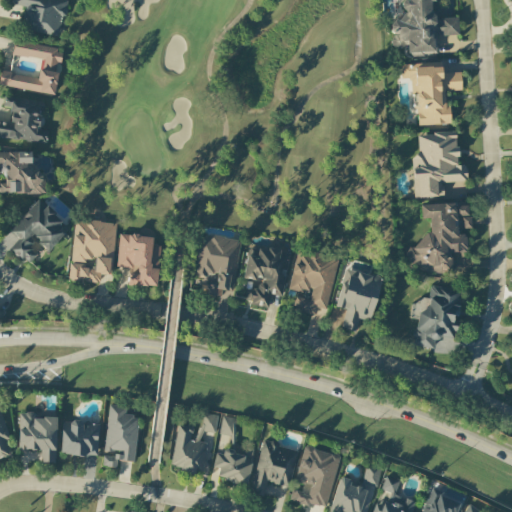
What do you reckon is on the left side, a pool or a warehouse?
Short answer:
pool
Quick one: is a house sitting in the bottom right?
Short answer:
Yes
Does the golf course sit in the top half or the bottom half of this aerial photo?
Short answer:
top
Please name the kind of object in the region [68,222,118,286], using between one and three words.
house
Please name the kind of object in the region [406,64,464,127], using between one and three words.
house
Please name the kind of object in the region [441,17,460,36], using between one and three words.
building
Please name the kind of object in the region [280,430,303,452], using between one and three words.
swimming pool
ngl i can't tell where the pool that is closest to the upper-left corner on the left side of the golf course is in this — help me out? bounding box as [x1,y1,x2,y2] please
[13,57,42,76]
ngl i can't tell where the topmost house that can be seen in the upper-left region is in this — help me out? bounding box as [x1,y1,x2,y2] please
[15,0,72,40]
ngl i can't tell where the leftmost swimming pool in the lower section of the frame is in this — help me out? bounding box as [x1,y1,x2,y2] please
[36,394,59,412]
